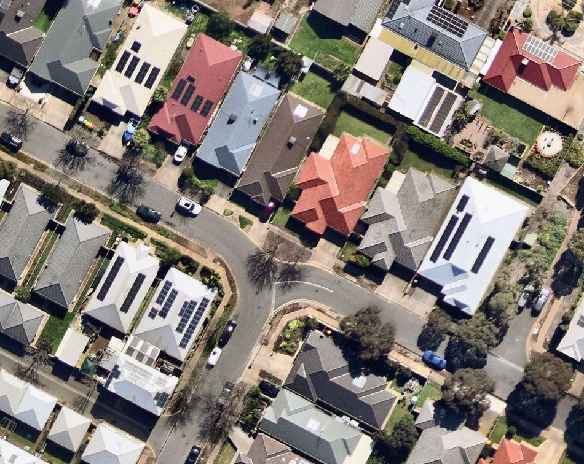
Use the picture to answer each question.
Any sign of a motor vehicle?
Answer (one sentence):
Yes, there's a motor vehicle down there.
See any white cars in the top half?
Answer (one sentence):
Yes, looking in the top half, one can make out a white car.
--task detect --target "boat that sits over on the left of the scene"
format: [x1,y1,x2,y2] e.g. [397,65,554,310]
[124,115,139,145]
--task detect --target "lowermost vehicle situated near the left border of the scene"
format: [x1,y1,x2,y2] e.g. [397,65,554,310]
[0,132,24,152]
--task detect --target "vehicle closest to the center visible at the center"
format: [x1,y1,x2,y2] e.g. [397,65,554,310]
[258,199,275,222]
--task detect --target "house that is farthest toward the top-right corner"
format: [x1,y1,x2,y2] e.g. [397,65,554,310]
[484,25,584,129]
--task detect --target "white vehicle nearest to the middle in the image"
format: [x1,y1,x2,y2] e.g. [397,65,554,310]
[175,197,202,215]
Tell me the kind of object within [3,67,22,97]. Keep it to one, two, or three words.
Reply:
vehicle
